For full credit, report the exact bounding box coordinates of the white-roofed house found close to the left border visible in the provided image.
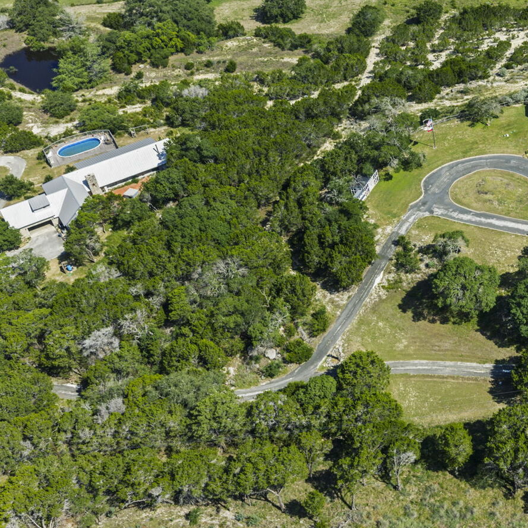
[0,135,176,237]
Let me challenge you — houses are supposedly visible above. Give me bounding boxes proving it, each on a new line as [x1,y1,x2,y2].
[0,135,176,237]
[346,166,379,198]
